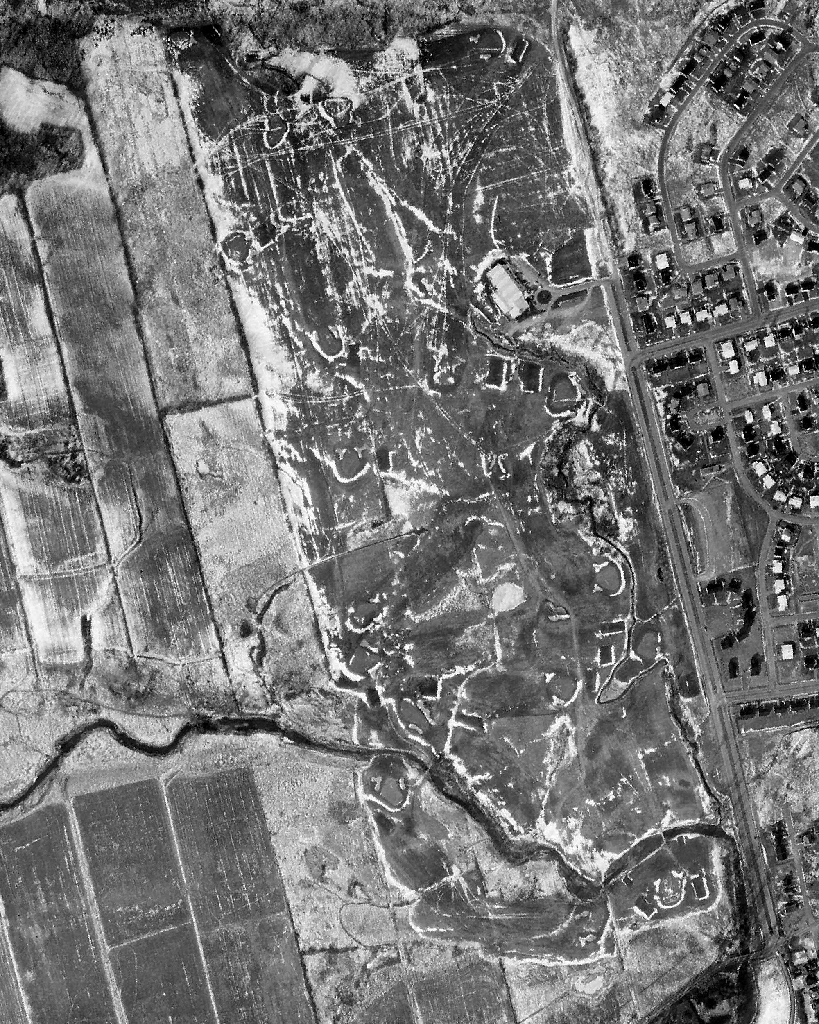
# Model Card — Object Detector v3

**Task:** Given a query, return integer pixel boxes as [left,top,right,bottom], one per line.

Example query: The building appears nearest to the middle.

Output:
[487,264,530,317]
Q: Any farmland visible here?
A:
Yes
